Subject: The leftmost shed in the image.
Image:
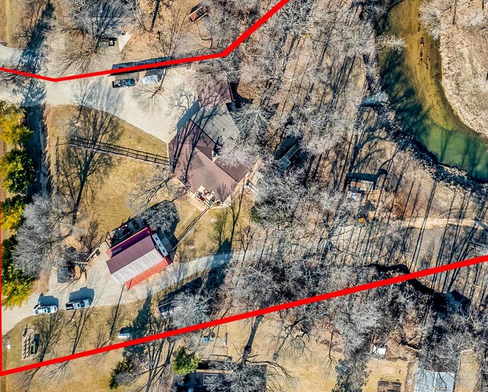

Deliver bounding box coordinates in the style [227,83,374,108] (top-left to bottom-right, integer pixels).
[55,264,74,285]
